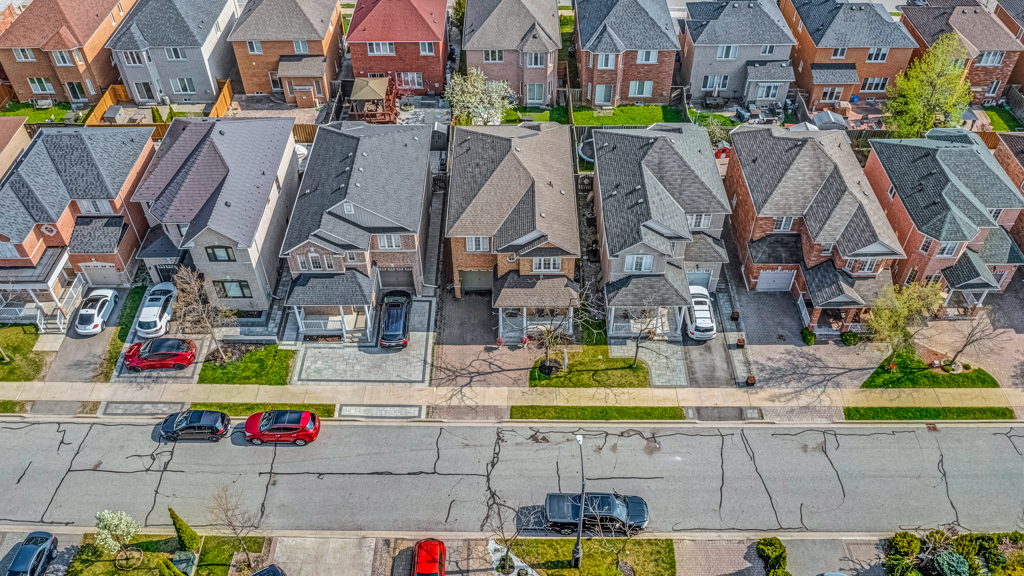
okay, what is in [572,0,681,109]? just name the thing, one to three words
house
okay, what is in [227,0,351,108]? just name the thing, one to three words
house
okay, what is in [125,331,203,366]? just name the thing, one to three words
car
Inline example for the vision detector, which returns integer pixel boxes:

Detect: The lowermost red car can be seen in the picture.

[413,537,450,576]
